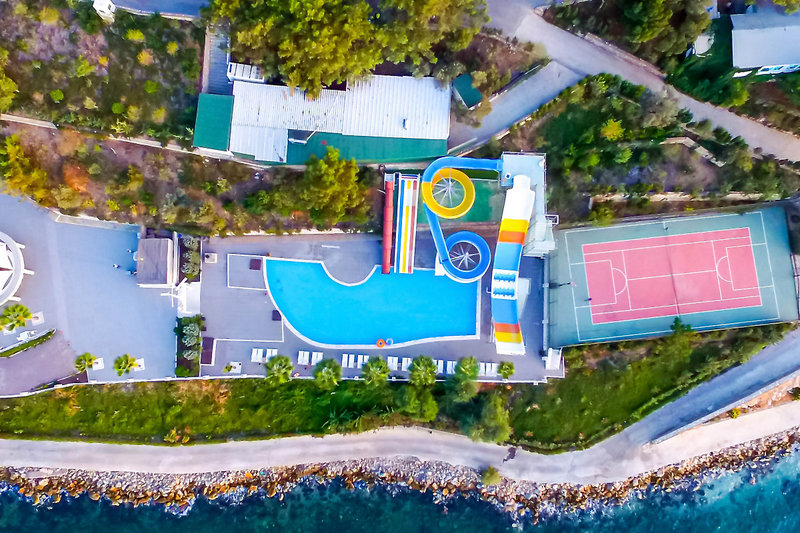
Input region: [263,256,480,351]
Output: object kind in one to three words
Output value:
swimming pool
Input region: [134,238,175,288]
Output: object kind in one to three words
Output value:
shed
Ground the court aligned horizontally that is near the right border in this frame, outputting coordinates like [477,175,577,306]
[550,208,798,346]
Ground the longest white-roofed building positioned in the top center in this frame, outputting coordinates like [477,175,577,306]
[193,76,450,166]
